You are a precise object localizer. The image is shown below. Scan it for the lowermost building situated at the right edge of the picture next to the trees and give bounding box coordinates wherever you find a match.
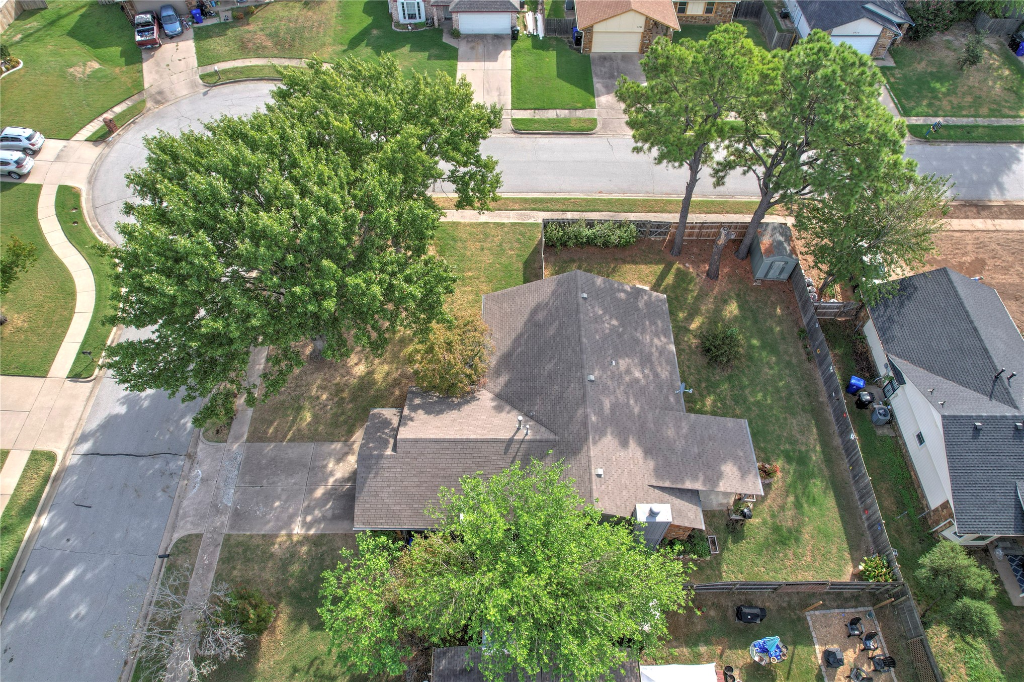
[850,267,1024,551]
